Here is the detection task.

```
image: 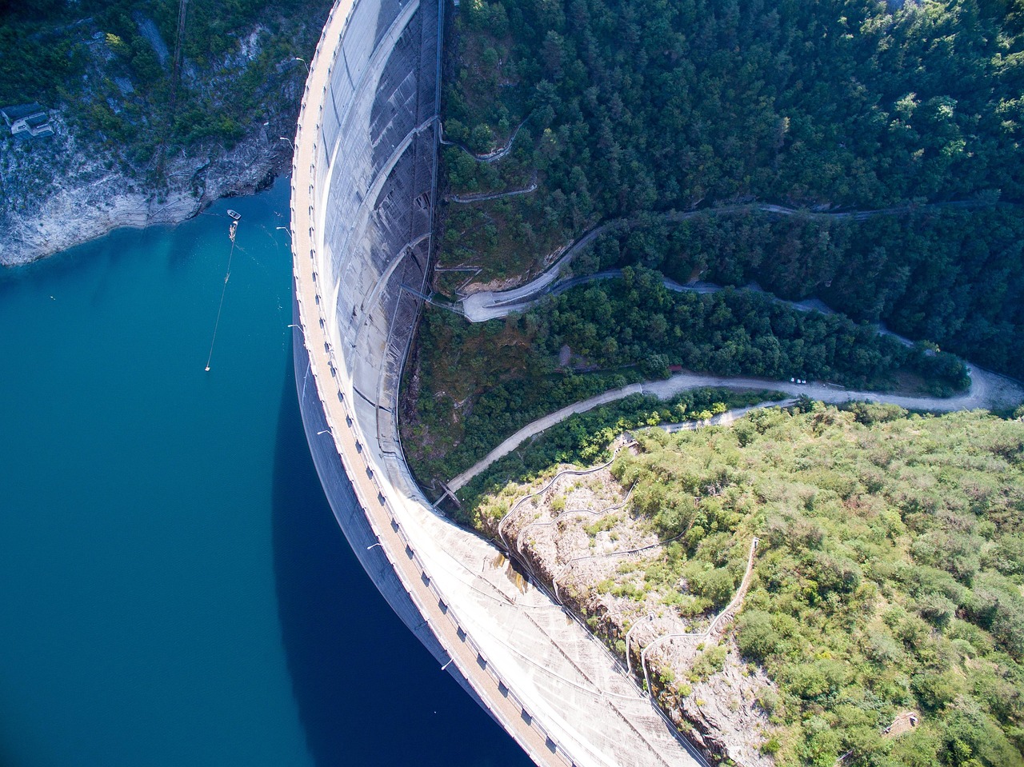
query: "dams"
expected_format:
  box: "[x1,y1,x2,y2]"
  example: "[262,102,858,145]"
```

[288,0,719,767]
